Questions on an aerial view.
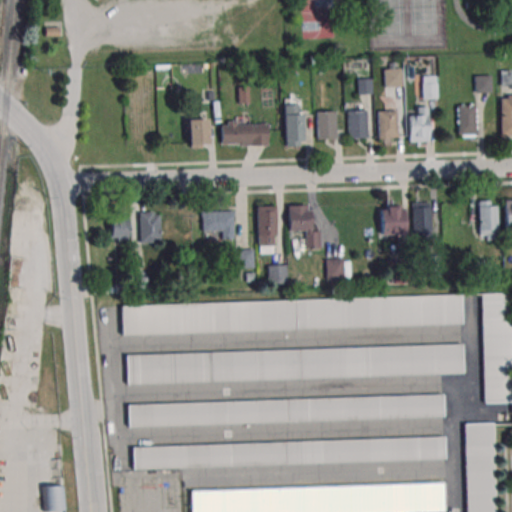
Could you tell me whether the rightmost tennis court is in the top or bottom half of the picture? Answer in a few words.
top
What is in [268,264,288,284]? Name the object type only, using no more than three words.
building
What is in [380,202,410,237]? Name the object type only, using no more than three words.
house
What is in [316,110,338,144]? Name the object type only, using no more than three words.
house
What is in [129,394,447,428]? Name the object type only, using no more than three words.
building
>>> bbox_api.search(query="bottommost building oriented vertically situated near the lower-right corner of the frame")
[464,422,498,512]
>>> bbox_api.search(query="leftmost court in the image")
[304,0,335,41]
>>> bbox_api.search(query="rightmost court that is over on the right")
[372,0,446,48]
